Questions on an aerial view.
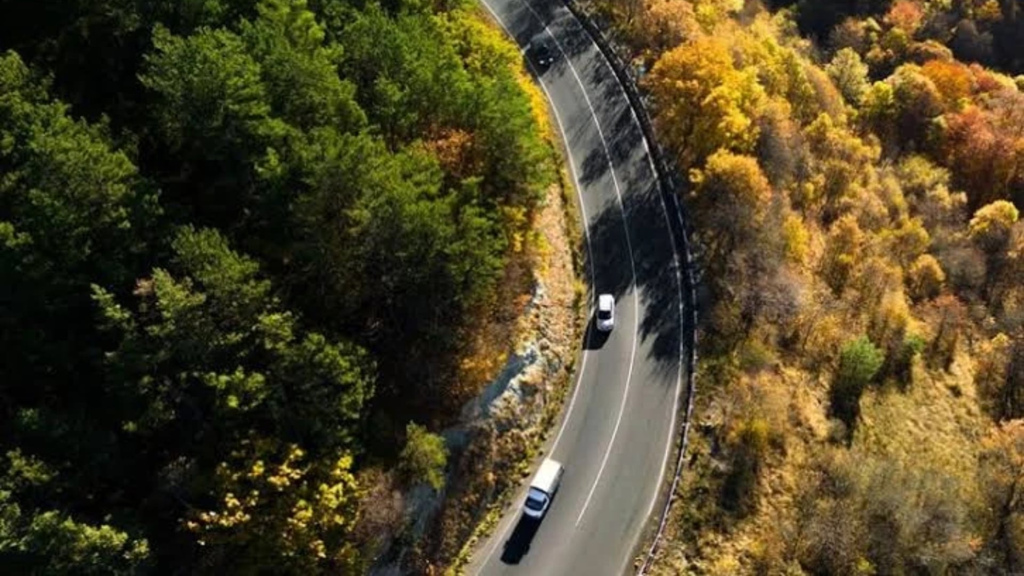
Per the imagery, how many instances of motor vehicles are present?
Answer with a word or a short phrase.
three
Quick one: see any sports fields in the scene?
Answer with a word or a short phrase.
No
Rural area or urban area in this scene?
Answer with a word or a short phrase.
rural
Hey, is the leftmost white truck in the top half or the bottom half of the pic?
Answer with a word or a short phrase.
bottom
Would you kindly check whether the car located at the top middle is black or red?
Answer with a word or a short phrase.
black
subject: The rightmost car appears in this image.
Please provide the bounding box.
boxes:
[594,292,615,329]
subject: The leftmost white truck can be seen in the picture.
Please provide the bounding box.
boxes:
[519,454,564,526]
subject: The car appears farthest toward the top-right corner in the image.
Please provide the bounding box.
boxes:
[532,40,556,68]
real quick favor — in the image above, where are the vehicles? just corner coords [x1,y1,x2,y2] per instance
[519,454,564,526]
[532,40,556,68]
[594,292,615,329]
